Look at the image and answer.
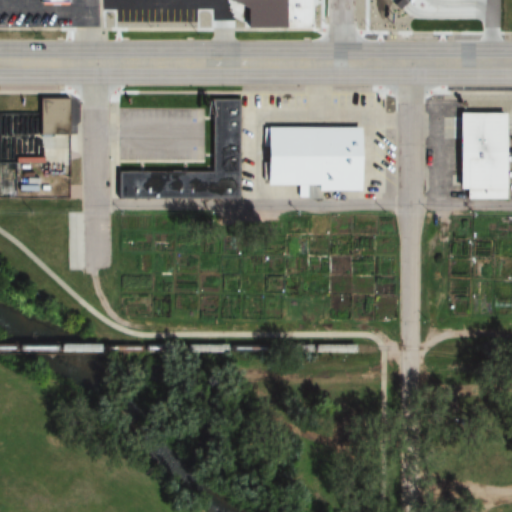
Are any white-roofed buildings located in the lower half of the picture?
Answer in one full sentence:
No, the scene shows no white-roofed building in the lower half of the picture.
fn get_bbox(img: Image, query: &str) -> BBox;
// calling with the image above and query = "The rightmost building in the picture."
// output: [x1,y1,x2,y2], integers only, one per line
[462,112,509,200]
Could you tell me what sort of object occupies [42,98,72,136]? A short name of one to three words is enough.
building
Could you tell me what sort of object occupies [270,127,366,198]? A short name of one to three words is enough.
building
